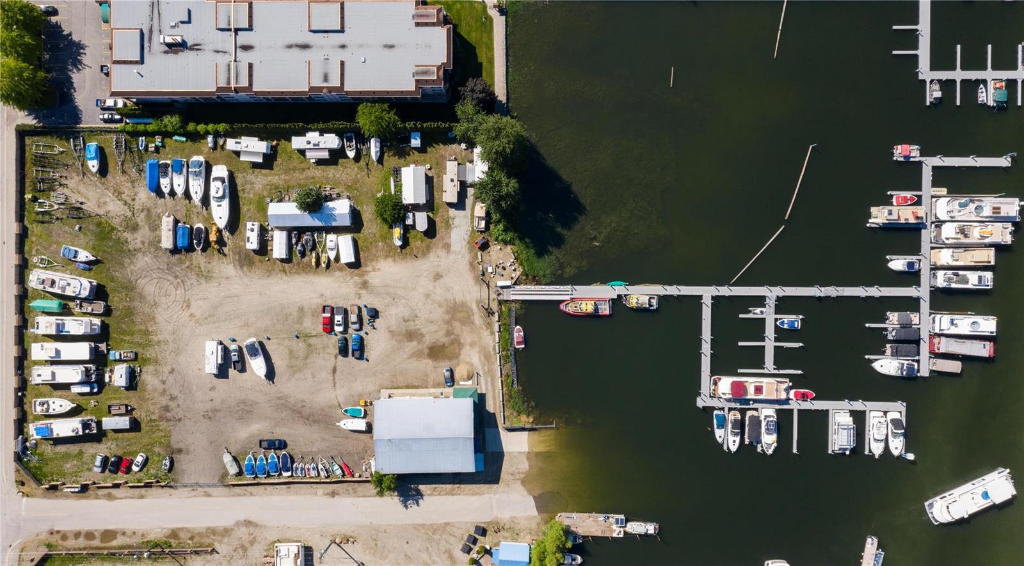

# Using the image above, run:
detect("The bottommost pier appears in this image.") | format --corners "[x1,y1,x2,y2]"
[696,390,909,459]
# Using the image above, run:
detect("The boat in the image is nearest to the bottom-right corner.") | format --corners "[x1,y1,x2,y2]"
[922,468,1018,521]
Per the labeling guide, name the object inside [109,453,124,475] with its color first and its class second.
black car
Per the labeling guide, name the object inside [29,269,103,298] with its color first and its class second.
white boat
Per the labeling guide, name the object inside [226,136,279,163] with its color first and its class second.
white trailer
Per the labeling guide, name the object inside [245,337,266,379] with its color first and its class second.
white boat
